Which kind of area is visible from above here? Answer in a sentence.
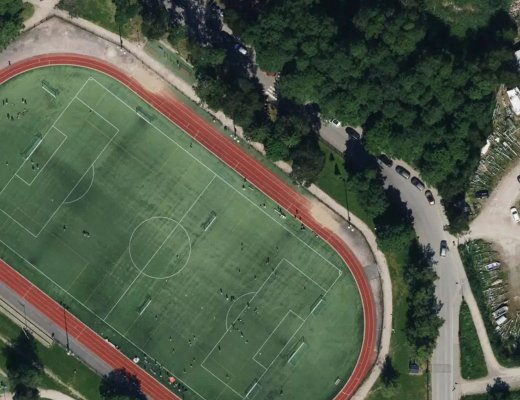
What you see here is a sports ground.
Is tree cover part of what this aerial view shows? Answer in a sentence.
Yes, there's tree cover in this view.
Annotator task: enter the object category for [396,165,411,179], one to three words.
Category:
vehicle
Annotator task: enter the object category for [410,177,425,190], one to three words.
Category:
vehicle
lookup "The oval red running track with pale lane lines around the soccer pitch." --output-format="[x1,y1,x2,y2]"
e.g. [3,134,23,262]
[0,52,378,400]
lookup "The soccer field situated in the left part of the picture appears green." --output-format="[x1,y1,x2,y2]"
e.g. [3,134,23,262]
[0,66,364,400]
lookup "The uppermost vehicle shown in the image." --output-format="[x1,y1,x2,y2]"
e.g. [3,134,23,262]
[233,42,249,56]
